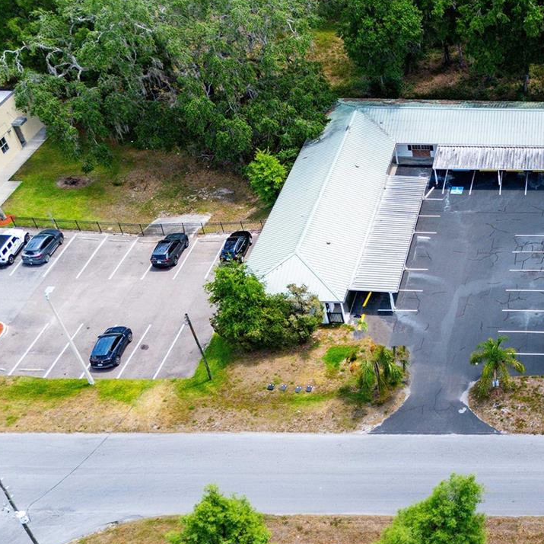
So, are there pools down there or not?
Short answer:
No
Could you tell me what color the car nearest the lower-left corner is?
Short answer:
blue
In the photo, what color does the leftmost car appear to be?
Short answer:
white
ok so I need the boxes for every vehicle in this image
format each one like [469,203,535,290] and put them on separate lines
[221,230,257,263]
[0,229,35,263]
[23,227,67,261]
[151,230,190,263]
[92,320,139,364]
